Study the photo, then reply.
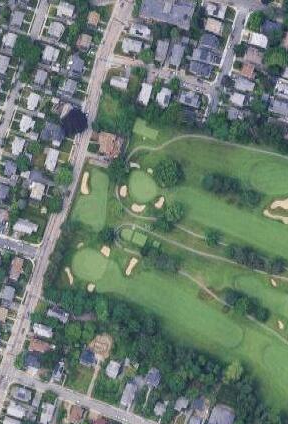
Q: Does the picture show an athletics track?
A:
No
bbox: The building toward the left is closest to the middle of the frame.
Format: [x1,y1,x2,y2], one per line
[95,131,124,161]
